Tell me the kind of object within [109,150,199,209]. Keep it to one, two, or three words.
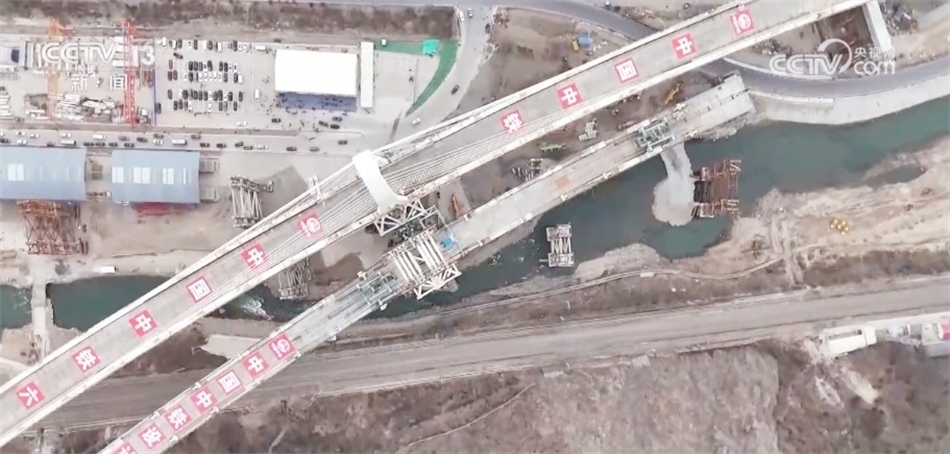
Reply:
shed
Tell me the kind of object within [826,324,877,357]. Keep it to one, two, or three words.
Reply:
building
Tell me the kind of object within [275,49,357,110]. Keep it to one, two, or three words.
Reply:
building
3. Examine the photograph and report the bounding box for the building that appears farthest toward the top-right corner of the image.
[864,0,894,54]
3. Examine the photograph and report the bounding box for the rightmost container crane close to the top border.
[122,7,149,128]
